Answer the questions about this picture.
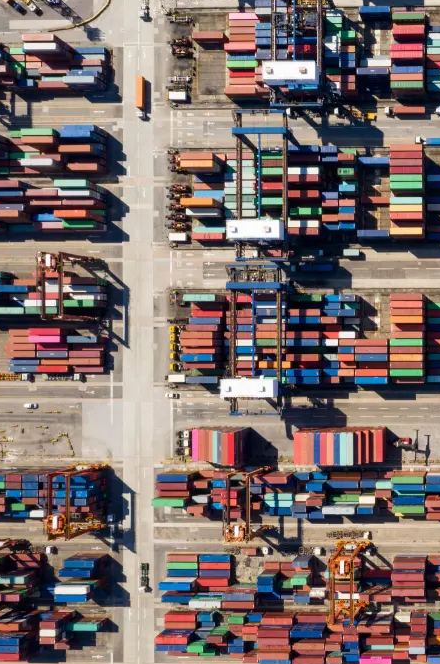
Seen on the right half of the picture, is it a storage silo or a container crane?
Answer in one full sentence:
It is a container crane that can be seen on the right half of the picture.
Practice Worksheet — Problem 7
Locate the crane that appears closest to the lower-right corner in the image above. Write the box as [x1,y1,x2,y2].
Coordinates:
[328,539,370,627]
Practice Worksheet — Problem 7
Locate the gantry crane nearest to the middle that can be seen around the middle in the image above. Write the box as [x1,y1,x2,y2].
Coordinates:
[221,264,304,417]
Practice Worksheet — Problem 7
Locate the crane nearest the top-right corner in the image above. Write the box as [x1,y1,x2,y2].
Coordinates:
[263,0,341,110]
